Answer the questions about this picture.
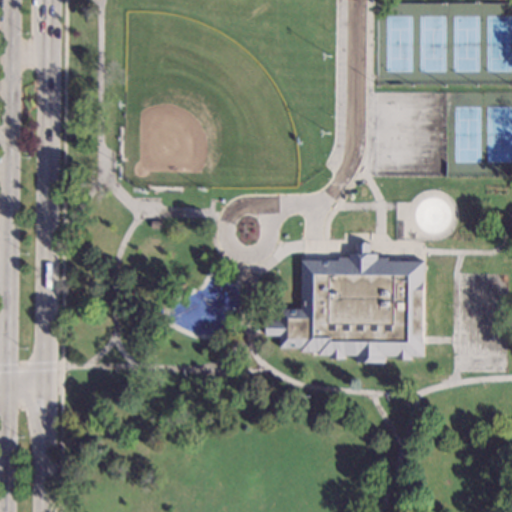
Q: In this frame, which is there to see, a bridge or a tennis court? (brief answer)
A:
tennis court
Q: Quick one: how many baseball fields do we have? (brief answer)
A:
1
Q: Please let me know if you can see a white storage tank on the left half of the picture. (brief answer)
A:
No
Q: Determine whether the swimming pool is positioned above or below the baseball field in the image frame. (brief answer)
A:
below it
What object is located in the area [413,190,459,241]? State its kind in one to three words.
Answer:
storage tank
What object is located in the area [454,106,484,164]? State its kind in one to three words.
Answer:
tennis court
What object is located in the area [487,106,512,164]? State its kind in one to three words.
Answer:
tennis court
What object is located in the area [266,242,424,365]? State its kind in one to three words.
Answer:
building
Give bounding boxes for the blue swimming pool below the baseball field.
[162,272,242,340]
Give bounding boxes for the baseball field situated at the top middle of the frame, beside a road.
[126,11,299,188]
